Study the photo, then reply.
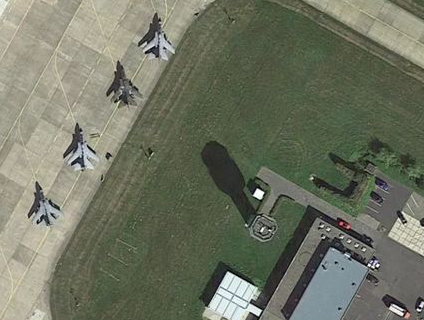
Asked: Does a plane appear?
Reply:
Yes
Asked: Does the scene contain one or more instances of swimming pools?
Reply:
No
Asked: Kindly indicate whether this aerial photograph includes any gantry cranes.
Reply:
No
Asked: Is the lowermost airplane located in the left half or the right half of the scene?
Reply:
left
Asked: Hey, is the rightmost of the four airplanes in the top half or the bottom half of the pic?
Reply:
top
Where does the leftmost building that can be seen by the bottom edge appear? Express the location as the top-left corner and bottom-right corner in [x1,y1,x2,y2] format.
[207,271,261,320]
